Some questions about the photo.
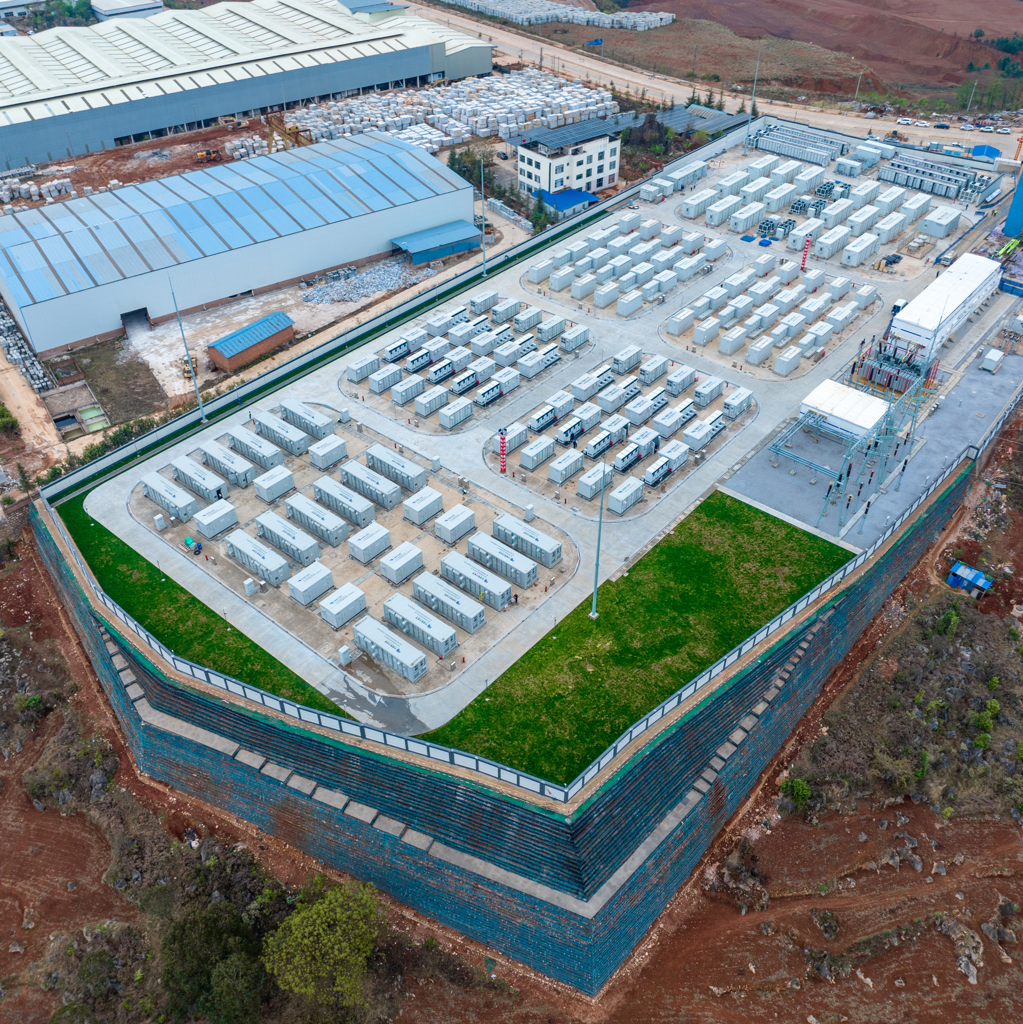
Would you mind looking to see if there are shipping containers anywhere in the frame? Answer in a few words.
Yes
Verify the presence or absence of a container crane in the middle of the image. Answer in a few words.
No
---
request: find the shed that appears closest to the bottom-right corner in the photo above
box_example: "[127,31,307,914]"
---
[946,554,997,598]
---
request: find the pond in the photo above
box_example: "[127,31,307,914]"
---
[40,379,112,443]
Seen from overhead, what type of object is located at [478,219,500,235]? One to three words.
work vehicle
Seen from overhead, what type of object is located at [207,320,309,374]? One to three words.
shed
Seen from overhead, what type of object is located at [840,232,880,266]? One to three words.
shipping container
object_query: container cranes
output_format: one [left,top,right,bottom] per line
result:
[265,109,320,148]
